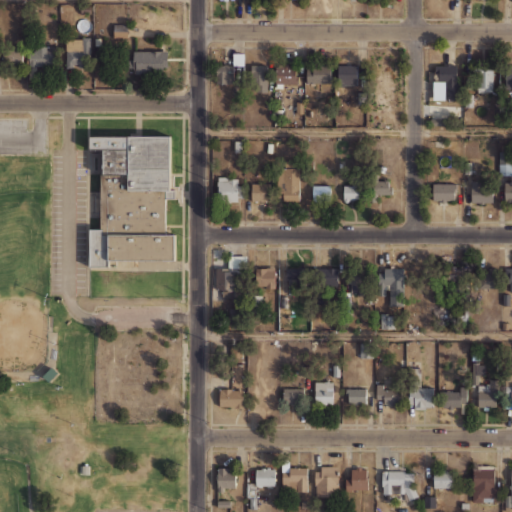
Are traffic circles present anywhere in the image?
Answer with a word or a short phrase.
No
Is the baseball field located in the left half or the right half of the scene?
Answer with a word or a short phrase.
left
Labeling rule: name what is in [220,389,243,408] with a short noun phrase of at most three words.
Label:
house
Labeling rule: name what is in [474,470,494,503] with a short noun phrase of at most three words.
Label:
house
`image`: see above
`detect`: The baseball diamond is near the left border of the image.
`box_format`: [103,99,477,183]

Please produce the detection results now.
[0,296,48,373]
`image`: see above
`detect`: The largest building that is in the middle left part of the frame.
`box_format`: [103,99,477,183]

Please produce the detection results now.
[89,136,176,268]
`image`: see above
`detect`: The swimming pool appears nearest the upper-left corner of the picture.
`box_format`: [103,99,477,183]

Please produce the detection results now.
[78,19,92,34]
